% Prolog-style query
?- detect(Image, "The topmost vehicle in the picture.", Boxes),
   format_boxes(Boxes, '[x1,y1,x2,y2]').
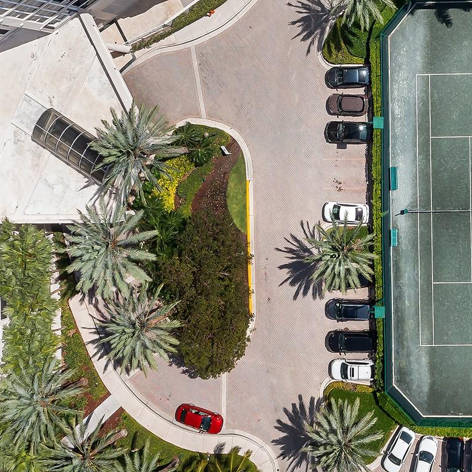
[324,64,370,89]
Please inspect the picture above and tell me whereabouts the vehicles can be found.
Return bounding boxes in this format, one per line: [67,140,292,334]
[326,359,373,387]
[322,202,369,226]
[324,119,371,146]
[169,404,223,437]
[412,437,438,472]
[326,271,370,295]
[325,92,367,117]
[324,299,371,325]
[324,64,370,89]
[324,330,372,357]
[383,425,414,472]
[445,439,464,472]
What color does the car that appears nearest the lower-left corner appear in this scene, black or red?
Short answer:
red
